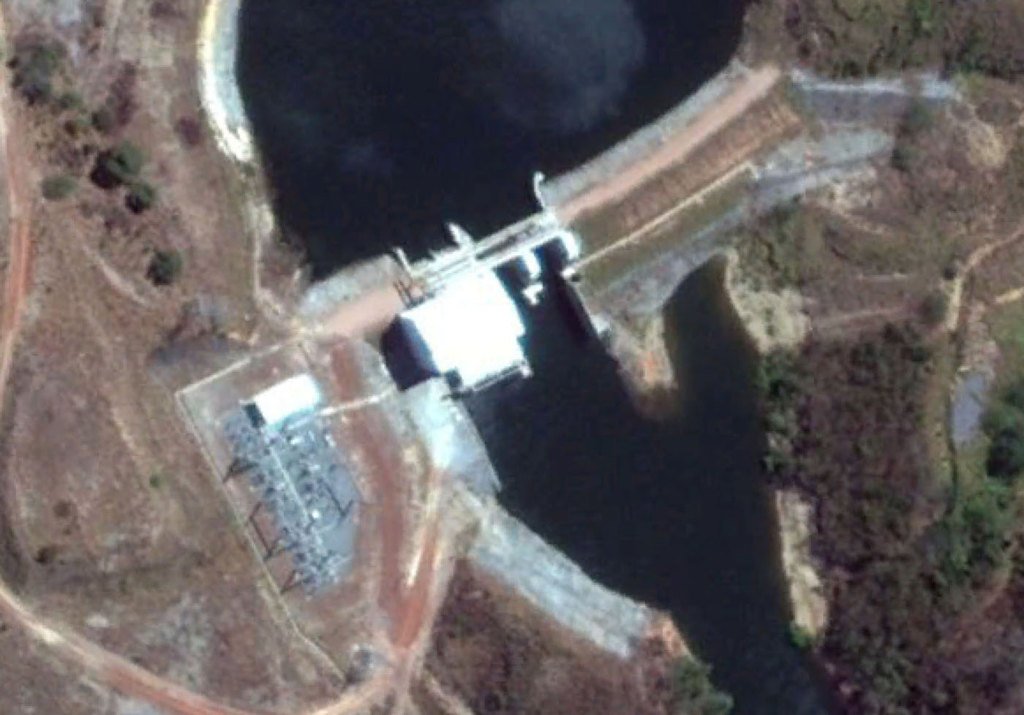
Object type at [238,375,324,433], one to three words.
building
